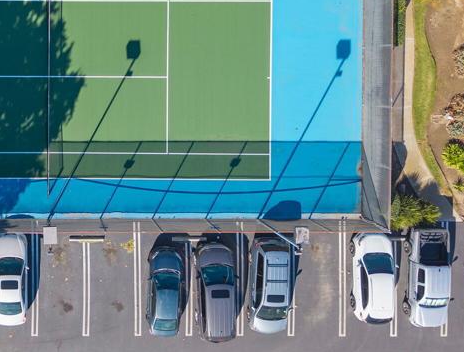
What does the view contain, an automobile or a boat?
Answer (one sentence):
It is an automobile that can be seen here.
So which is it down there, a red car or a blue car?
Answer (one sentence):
The one in the frame is a blue car.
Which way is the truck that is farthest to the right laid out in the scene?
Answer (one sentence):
I'd say the truck that is farthest to the right is aligned vertically in the picture.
